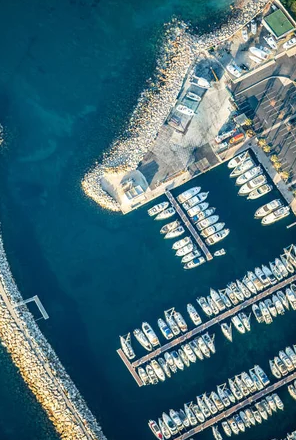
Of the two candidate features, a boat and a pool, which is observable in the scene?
boat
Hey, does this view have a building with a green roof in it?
Yes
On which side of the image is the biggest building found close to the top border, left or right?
right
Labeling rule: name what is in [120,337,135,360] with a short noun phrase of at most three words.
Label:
boat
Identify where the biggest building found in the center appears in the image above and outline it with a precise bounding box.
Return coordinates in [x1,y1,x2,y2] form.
[120,172,147,203]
